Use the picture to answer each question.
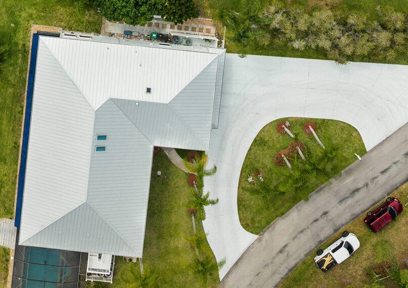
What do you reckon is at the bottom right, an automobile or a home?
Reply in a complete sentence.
Visible at the bottom right is an automobile.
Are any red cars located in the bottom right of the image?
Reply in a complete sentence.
Yes, in the bottom right of the image there is a red car.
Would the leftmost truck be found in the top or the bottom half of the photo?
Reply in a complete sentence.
The bottom half of the photo is where the leftmost truck is.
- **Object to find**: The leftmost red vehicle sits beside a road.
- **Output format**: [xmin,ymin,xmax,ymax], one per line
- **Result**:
[361,198,401,233]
